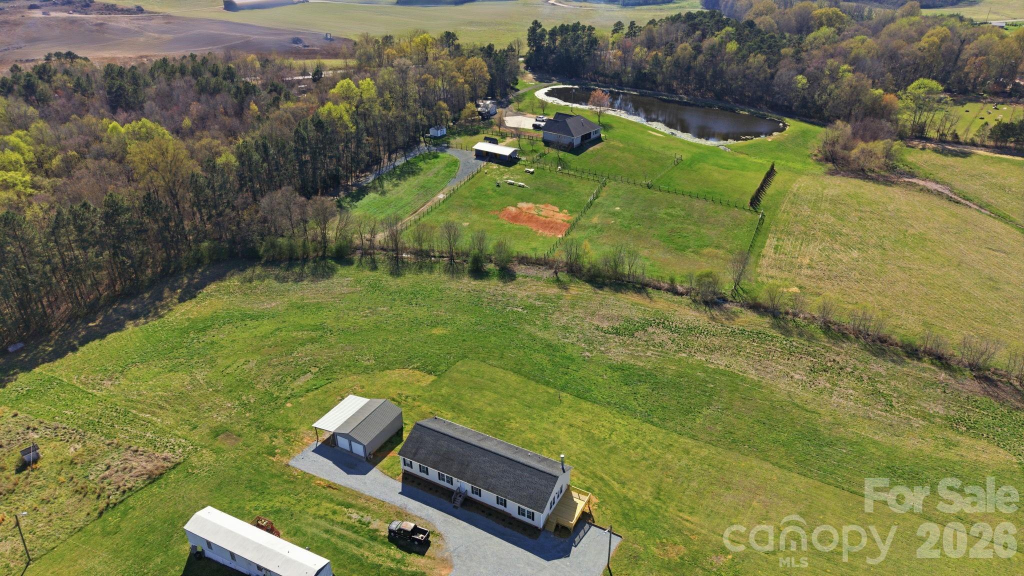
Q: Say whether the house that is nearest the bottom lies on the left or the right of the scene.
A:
left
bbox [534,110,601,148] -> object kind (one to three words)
house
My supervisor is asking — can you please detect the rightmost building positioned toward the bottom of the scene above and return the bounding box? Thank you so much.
[398,413,590,534]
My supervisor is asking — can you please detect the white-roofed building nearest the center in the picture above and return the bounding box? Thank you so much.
[473,141,517,165]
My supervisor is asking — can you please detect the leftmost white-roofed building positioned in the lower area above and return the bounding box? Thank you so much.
[184,506,330,576]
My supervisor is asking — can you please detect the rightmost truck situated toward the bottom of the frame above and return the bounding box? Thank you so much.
[385,521,431,547]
